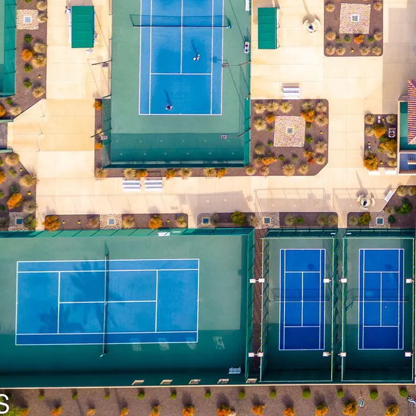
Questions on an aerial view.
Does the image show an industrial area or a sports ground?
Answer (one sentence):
What you see here is a sports ground.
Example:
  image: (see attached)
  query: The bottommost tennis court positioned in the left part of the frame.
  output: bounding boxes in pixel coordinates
[0,231,253,373]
